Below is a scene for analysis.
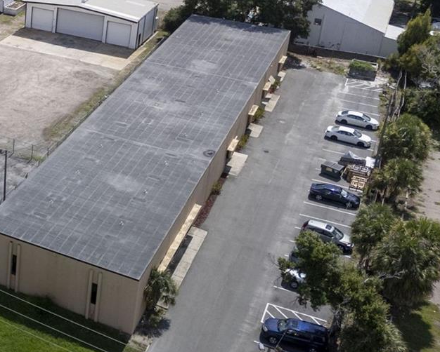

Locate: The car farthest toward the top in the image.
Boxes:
[337,110,379,128]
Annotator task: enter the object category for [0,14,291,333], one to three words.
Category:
building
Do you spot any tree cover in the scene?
Yes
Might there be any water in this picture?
No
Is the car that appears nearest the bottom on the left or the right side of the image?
right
